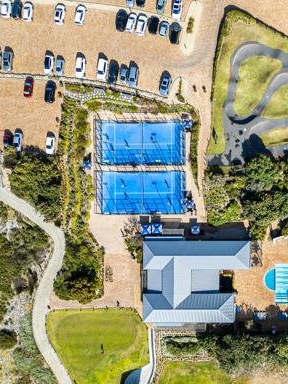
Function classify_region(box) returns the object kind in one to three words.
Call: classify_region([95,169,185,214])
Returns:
sports court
